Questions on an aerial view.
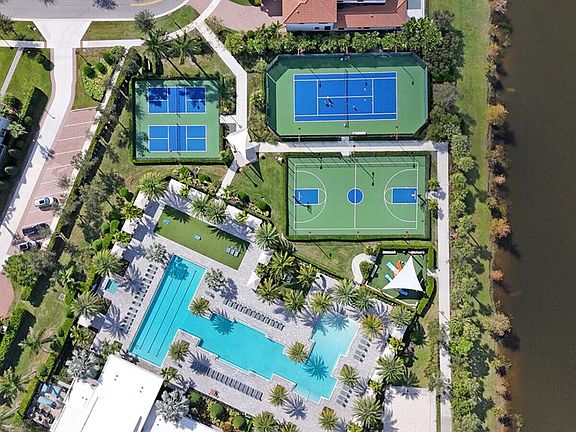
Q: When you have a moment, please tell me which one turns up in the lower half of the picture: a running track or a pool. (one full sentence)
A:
Visible in the lower half of the picture is a pool.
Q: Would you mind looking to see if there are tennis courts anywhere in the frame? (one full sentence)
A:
Yes, a tennis court is visible in the scene.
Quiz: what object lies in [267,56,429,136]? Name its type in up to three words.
tennis court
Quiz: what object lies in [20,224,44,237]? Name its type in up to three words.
vehicle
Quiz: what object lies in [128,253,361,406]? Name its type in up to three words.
swimming pool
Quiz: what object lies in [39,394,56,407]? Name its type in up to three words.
umbrella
